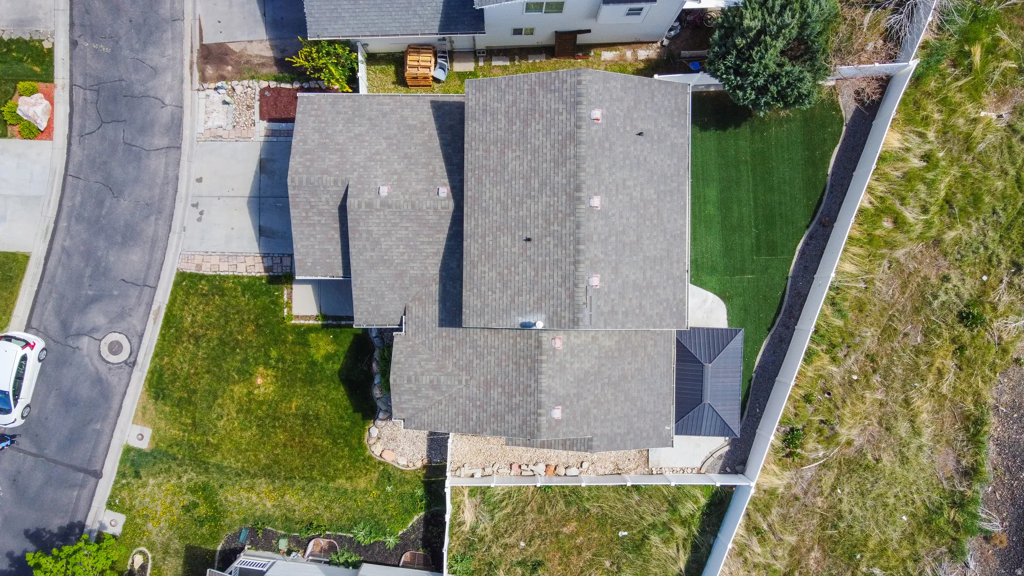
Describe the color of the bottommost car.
white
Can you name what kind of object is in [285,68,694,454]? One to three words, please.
house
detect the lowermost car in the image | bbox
[0,330,47,424]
